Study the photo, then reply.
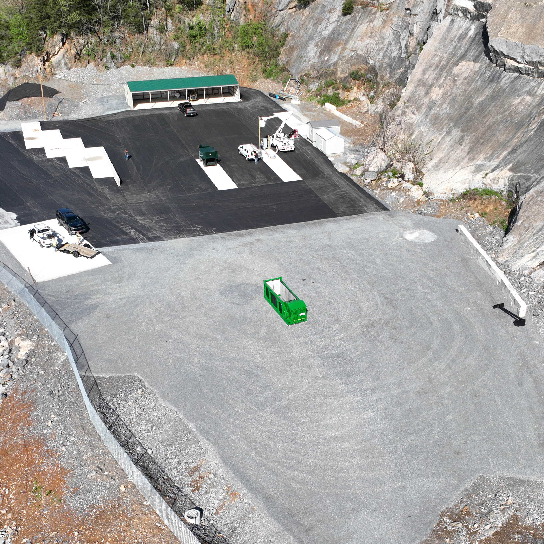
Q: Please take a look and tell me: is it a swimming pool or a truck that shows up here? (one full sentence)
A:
Looking from above, you can make out a truck.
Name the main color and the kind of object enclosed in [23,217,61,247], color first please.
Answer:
white truck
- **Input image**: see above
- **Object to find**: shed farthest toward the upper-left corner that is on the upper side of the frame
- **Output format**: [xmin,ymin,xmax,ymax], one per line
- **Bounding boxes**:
[122,71,246,110]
